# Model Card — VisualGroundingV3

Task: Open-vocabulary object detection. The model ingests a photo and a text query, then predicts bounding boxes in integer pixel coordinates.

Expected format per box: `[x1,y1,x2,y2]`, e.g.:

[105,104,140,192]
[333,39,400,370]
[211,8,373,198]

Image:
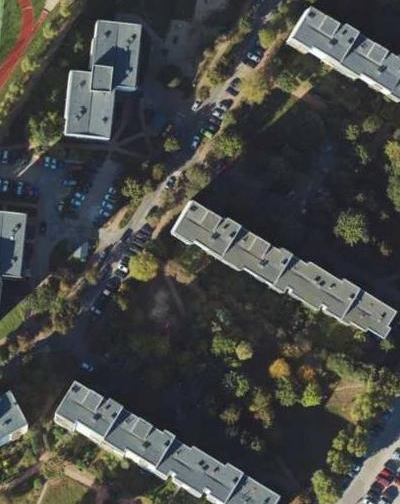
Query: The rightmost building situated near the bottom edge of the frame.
[56,382,283,504]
